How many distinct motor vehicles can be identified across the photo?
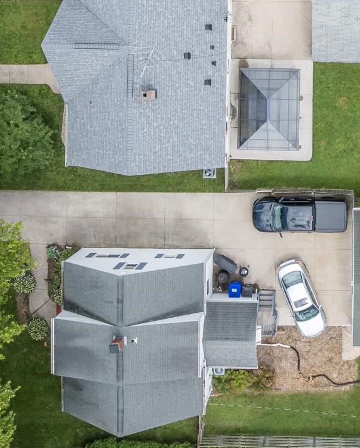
2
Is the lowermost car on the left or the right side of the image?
right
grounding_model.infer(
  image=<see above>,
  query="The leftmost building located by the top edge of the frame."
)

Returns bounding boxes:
[41,0,236,176]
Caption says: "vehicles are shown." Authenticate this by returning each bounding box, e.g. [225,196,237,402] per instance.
[253,197,352,240]
[276,258,325,340]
